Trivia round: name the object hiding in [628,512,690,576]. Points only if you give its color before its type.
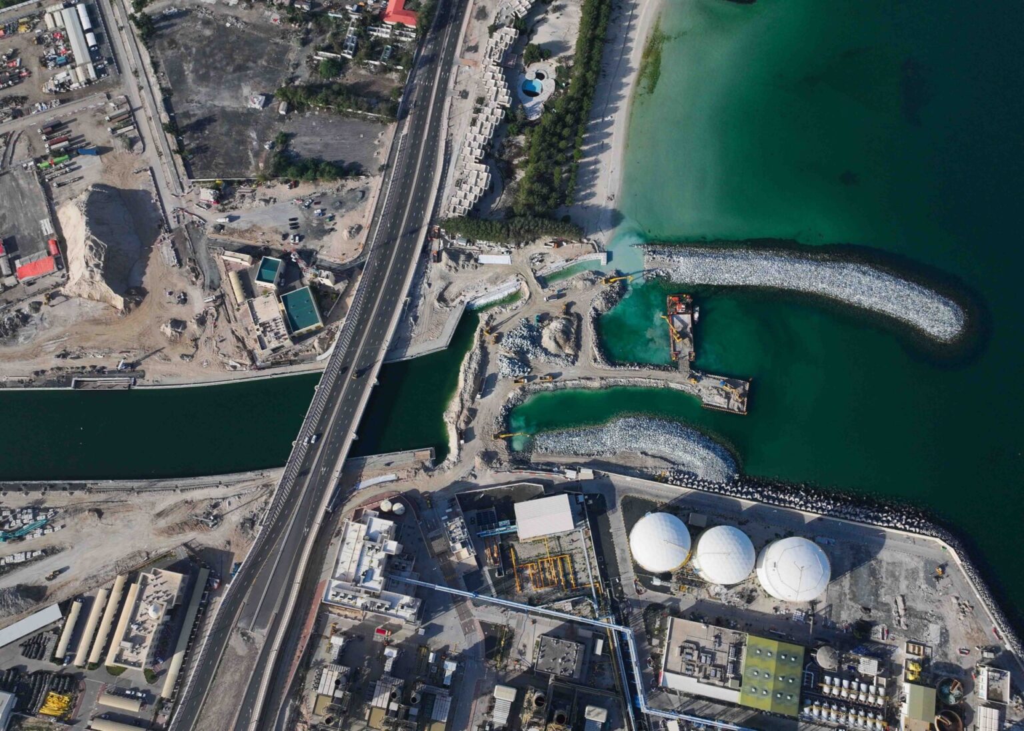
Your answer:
white storage tank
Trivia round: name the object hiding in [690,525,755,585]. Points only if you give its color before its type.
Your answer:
white storage tank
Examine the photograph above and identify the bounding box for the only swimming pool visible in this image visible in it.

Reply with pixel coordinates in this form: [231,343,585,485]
[514,67,551,120]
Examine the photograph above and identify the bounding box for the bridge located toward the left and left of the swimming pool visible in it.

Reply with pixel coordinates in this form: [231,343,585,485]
[169,0,473,731]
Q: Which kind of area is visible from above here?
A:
port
